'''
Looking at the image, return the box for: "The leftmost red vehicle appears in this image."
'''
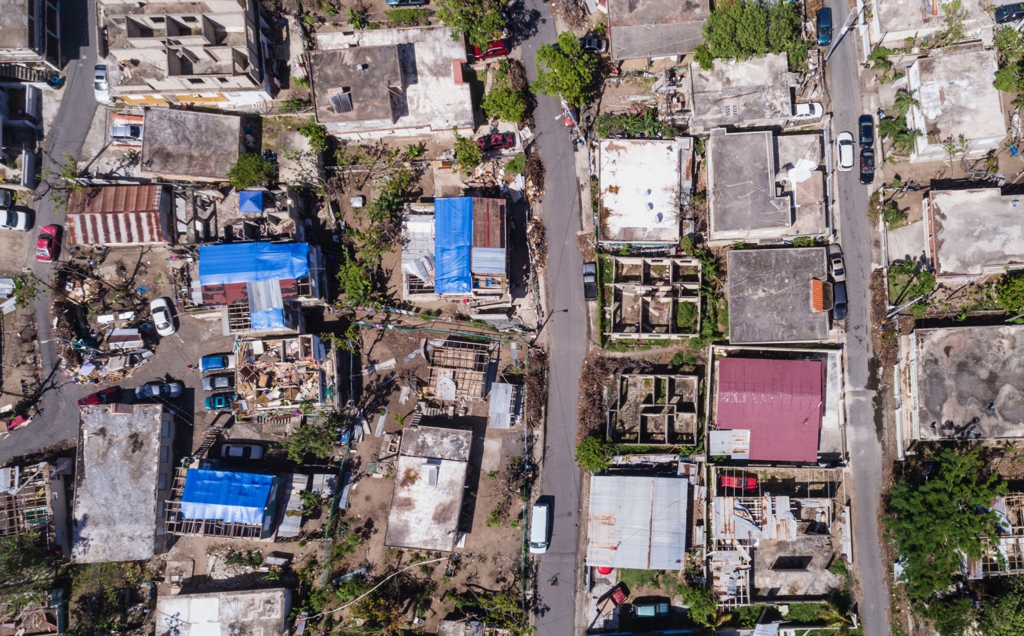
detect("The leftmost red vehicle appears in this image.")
[35,225,62,262]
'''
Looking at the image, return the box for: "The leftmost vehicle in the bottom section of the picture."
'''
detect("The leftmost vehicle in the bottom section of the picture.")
[78,385,121,407]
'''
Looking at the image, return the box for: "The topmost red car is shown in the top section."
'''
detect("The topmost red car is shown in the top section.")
[473,40,509,59]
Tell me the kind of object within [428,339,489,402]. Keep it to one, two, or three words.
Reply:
house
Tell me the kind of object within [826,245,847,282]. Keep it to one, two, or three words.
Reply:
car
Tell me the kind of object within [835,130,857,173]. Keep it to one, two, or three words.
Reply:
car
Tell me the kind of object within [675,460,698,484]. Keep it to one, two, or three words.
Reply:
shed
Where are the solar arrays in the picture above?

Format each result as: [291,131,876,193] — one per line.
[331,93,352,114]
